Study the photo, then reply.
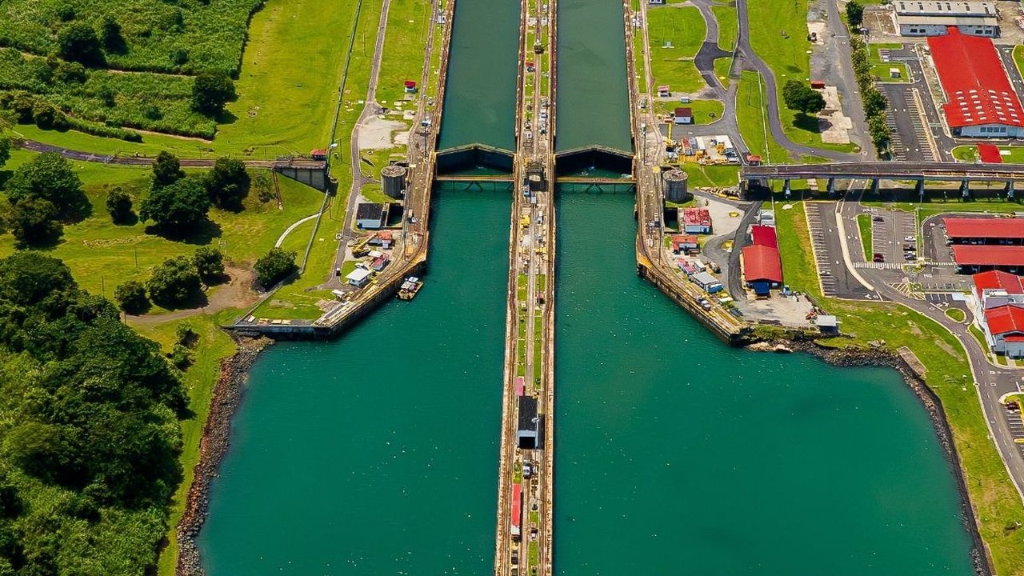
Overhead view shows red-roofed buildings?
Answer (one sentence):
Yes, there is a red-roofed building in the image.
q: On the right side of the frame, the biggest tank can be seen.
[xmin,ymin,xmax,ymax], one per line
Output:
[661,167,692,204]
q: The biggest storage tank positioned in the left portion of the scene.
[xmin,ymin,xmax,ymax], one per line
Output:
[378,163,409,200]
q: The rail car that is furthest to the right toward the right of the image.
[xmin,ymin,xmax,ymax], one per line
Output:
[694,293,715,310]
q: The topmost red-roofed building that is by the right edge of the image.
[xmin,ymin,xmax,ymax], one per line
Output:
[925,29,1024,137]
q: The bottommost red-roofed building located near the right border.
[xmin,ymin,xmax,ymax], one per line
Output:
[965,270,1024,357]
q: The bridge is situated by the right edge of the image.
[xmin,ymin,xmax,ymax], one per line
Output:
[735,159,1024,196]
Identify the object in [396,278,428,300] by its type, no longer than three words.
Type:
ship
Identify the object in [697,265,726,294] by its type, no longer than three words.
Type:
building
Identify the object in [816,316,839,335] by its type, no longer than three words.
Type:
shed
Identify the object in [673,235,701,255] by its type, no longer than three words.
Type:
house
